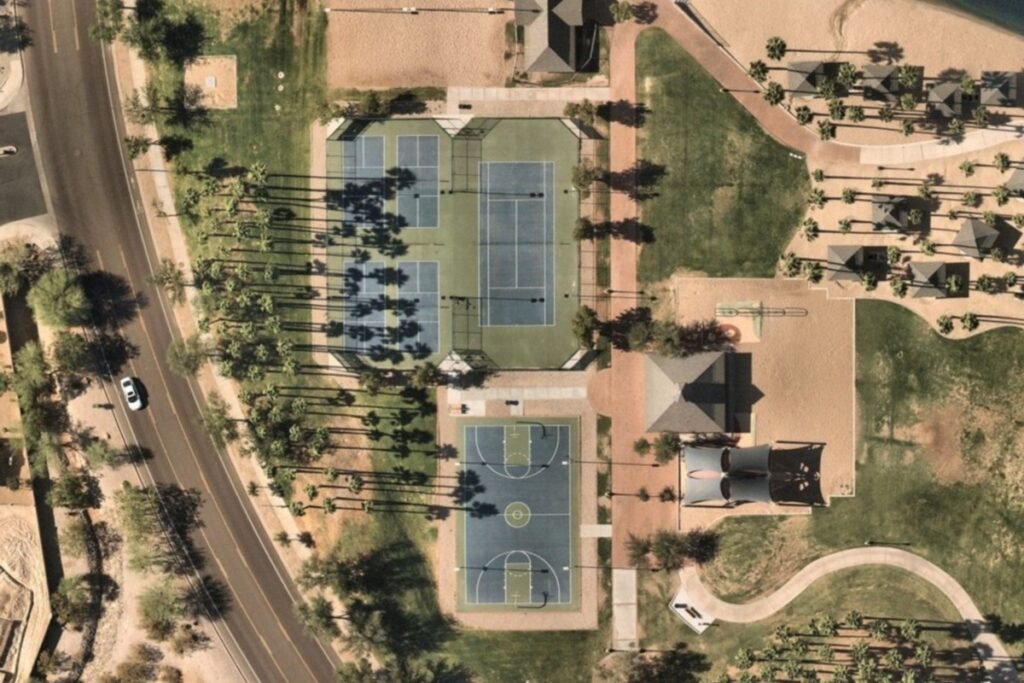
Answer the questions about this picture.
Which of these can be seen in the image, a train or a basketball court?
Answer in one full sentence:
Looking from above, you can make out a basketball court.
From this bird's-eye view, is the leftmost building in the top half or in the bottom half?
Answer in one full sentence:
The top half of the photo is where the leftmost building is.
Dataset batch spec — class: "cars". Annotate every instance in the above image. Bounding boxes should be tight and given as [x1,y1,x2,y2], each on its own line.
[0,144,16,158]
[121,377,139,411]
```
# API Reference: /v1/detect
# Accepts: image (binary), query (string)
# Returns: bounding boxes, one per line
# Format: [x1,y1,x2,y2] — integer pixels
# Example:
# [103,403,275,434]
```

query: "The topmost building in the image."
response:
[514,0,582,72]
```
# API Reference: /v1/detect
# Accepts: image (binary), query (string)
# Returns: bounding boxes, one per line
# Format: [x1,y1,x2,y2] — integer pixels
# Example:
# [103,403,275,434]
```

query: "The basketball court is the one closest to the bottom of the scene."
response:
[456,417,580,612]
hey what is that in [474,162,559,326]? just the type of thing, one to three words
tennis court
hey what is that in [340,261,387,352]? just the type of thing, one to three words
sports court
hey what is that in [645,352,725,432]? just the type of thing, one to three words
building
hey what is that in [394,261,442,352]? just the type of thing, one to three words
sports court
